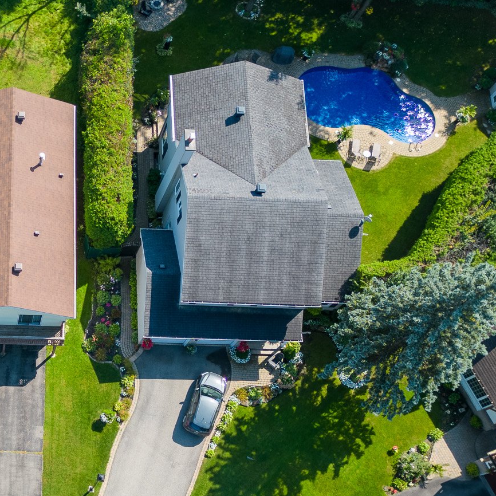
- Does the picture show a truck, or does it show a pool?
pool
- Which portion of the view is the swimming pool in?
top right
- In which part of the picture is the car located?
bottom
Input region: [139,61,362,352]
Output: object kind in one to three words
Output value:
house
